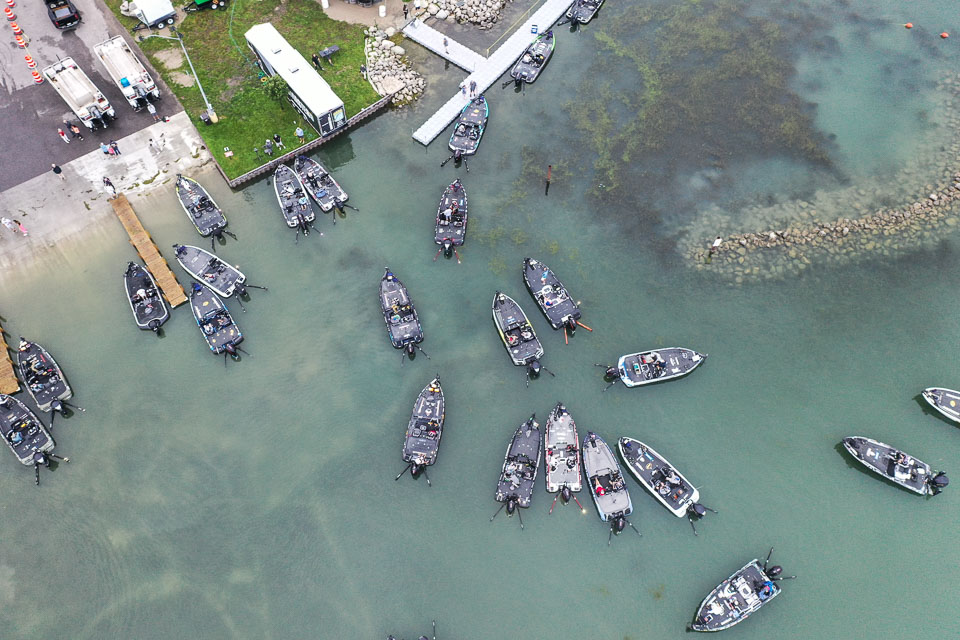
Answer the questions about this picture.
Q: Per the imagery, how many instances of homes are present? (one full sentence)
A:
The photo contains no homes.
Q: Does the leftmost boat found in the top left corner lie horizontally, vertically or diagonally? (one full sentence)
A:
The leftmost boat found in the top left corner has been laid out diagonally relative to the frame.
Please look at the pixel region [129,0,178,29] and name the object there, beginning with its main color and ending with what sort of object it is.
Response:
white trailer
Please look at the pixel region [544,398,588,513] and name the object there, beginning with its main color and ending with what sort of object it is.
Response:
white boat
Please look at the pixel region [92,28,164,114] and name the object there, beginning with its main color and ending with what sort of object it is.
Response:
white boat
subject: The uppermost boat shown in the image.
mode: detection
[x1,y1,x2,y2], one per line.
[557,0,608,35]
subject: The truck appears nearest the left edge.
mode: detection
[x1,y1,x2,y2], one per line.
[46,0,78,28]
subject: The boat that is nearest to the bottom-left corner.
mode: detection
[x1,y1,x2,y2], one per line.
[0,390,69,482]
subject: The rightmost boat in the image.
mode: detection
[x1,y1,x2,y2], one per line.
[922,386,960,426]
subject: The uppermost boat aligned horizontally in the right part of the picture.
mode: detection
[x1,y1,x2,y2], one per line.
[598,345,712,392]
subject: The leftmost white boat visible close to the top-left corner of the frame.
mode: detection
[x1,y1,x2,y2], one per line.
[40,51,117,134]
